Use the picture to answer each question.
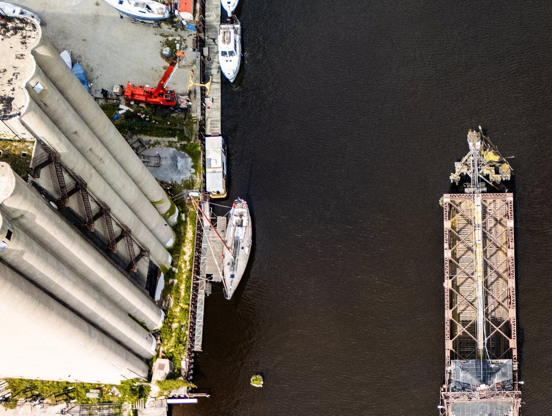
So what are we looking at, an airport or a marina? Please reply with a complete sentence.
The area seen from above is a marina.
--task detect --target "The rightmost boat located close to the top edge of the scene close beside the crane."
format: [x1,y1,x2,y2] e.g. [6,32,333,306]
[218,9,239,82]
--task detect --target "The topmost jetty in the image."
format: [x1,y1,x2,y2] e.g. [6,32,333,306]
[206,0,222,126]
